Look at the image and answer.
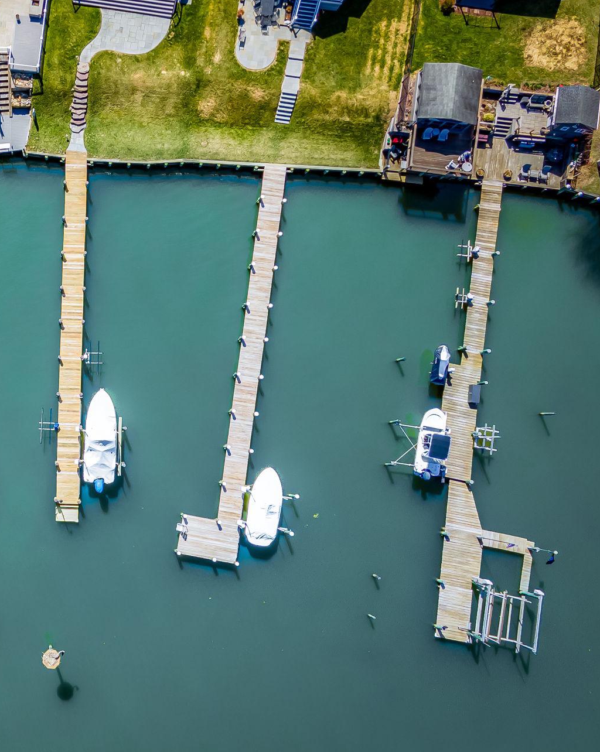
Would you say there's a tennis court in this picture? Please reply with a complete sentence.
No, the photo shows no tennis court.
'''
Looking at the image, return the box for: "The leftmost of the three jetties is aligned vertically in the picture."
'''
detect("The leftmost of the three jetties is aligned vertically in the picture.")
[53,158,89,522]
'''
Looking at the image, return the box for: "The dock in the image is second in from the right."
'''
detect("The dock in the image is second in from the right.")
[172,168,287,566]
